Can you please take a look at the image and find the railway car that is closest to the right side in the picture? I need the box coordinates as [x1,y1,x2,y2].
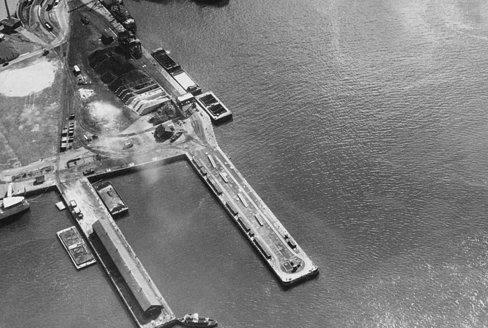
[283,231,298,249]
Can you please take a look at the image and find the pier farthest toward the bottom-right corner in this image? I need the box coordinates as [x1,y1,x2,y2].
[184,150,319,287]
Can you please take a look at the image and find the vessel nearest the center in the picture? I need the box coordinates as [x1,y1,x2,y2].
[195,89,231,123]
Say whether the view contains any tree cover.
No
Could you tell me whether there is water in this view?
Yes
